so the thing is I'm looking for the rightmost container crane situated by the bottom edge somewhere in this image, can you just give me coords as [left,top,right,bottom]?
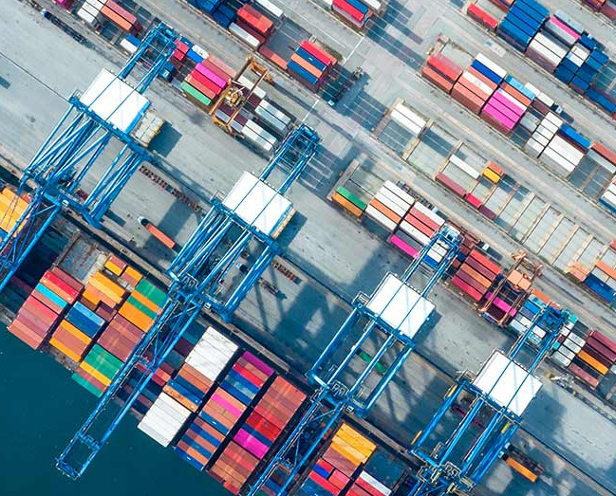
[403,298,570,496]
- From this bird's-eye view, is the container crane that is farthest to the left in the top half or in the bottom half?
top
